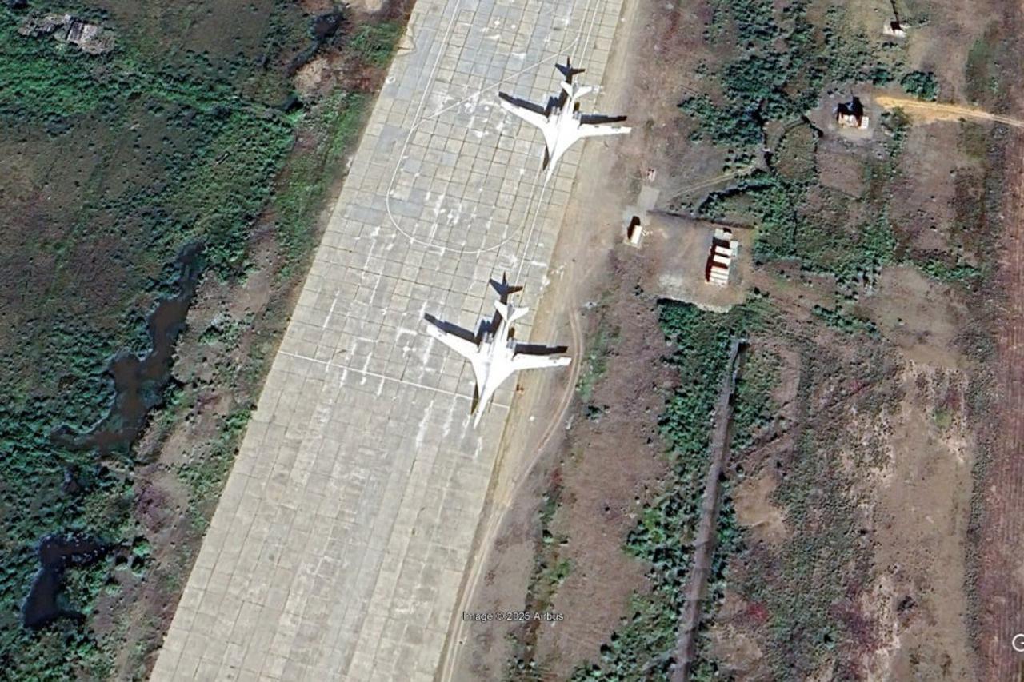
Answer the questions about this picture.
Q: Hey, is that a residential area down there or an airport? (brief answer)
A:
airport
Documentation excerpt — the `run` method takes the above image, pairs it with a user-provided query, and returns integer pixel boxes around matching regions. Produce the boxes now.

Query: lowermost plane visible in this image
[427,299,573,429]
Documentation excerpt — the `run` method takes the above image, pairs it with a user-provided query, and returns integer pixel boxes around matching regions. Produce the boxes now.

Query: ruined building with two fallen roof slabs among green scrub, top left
[22,13,98,44]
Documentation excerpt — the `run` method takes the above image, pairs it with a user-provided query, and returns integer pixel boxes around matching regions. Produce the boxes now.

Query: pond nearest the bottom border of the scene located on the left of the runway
[22,533,111,627]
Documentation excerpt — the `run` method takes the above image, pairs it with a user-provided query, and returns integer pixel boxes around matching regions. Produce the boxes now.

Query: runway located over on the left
[152,0,621,682]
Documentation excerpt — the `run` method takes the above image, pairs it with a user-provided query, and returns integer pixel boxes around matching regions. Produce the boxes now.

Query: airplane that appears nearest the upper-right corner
[500,77,632,186]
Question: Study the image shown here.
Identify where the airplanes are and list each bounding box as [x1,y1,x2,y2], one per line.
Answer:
[427,299,573,429]
[500,77,632,186]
